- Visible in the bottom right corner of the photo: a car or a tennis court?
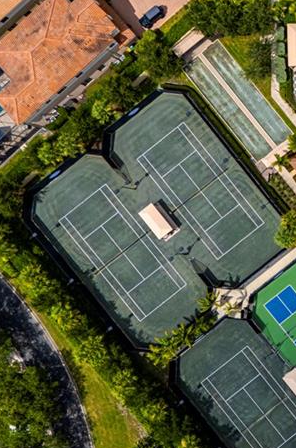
tennis court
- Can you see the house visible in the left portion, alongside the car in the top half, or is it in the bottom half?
top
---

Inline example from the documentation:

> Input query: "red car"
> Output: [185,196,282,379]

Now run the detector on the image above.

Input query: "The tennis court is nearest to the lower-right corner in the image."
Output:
[201,346,296,448]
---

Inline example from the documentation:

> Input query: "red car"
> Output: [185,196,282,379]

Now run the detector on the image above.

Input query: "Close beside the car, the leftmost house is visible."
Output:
[0,0,141,127]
